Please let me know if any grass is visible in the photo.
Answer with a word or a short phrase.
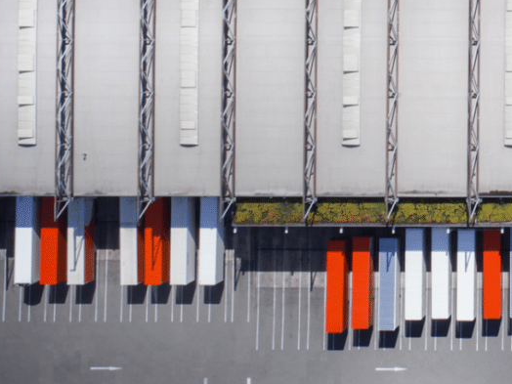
No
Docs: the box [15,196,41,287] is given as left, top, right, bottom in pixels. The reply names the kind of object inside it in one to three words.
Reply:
trailer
